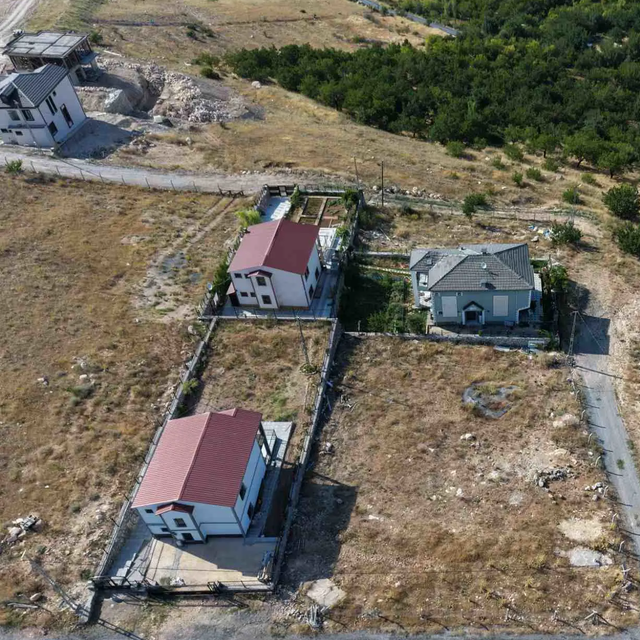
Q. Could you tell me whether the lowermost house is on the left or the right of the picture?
left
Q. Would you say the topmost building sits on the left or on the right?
left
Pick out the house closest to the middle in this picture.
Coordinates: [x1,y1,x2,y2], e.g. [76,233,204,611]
[225,217,324,310]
